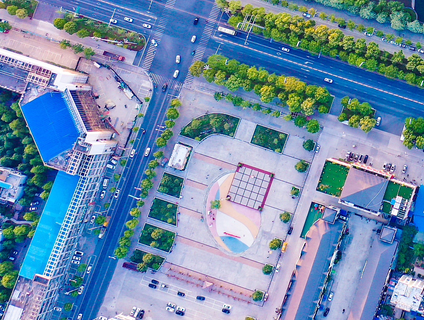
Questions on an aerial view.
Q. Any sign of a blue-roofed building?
Yes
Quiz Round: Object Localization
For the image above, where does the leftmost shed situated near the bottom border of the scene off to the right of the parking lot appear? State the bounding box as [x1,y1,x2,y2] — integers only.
[281,219,349,320]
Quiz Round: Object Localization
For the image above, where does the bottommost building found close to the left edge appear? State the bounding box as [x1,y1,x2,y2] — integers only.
[2,274,69,320]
